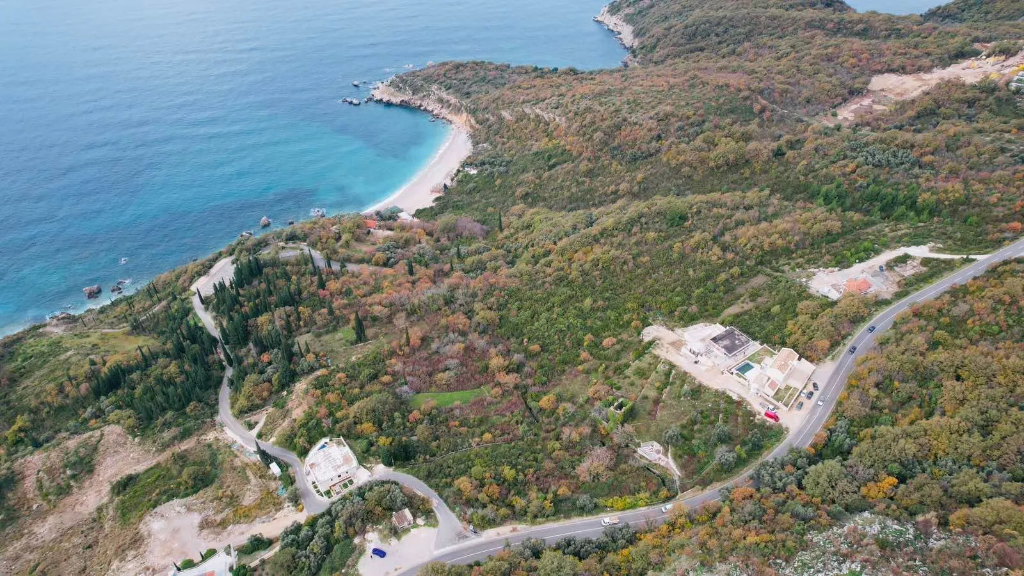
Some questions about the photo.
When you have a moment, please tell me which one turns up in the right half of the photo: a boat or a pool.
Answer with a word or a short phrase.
pool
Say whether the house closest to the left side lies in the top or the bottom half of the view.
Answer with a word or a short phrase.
bottom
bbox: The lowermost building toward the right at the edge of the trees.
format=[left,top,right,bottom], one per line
[636,440,678,475]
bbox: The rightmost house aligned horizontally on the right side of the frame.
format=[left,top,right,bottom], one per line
[817,276,888,303]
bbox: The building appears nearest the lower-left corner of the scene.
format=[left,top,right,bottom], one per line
[179,543,237,576]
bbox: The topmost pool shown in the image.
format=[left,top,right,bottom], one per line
[732,361,764,381]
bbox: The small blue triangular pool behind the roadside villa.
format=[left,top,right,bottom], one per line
[310,438,333,460]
